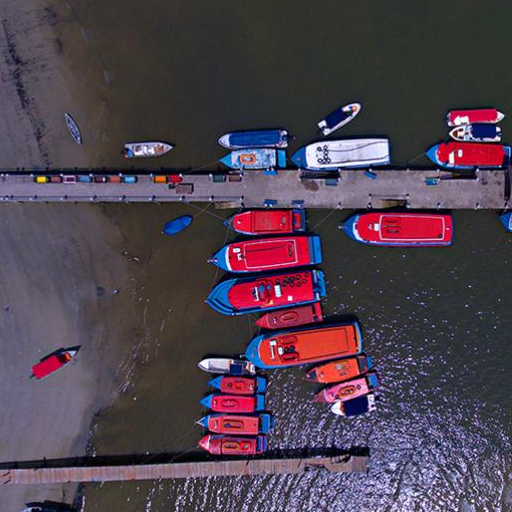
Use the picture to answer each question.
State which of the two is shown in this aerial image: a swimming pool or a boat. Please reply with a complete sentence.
There is a boat in the scene.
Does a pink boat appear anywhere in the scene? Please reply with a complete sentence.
Yes, looking at the shot, I can spot a pink boat.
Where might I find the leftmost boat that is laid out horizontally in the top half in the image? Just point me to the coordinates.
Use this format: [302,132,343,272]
[122,140,174,157]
